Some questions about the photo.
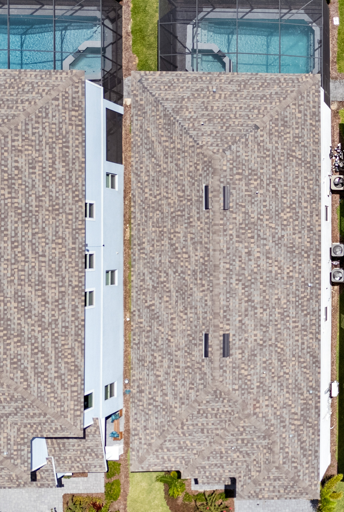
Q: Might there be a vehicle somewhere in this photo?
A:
No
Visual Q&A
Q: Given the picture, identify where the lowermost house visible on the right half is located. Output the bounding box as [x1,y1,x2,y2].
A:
[131,72,334,499]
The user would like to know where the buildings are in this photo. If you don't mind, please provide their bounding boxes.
[0,70,124,488]
[131,72,334,499]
